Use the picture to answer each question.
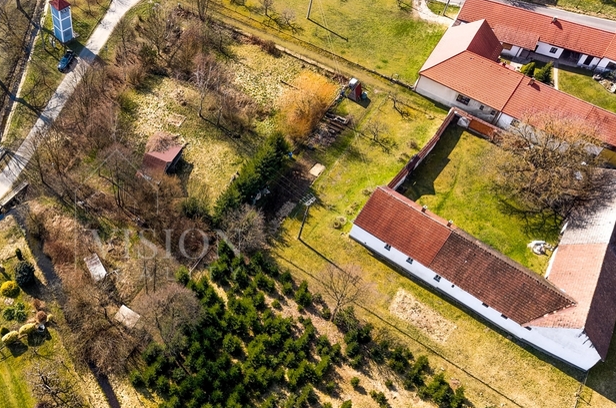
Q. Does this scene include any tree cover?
Yes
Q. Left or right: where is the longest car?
left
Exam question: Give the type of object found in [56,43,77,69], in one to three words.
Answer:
car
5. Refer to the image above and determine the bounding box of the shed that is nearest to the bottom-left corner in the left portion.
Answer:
[84,253,106,282]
